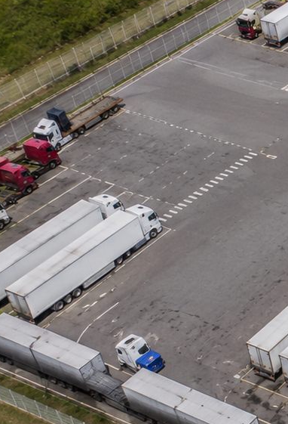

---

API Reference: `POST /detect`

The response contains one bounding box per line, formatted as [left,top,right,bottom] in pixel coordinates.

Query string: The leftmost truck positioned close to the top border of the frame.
[242,8,268,39]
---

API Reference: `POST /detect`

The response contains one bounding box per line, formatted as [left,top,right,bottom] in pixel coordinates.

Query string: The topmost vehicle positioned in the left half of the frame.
[27,93,126,149]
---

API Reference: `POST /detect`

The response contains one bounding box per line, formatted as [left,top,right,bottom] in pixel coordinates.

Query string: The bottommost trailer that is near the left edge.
[0,312,110,398]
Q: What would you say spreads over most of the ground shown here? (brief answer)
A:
paved ground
